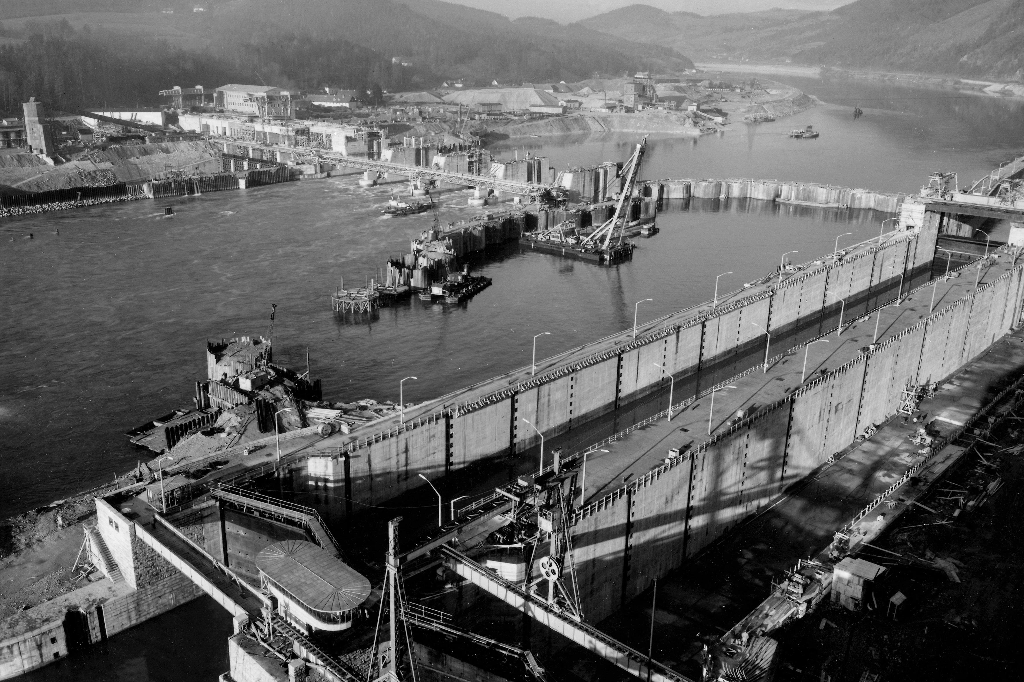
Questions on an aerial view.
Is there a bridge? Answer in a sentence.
Yes, the picture does show a bridge.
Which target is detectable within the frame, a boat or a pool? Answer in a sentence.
Of the two, only a boat appears.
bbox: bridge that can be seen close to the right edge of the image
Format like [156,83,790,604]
[925,202,1024,222]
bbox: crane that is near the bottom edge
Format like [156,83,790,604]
[361,442,614,682]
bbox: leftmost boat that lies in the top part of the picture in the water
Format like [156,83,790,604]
[383,188,448,214]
